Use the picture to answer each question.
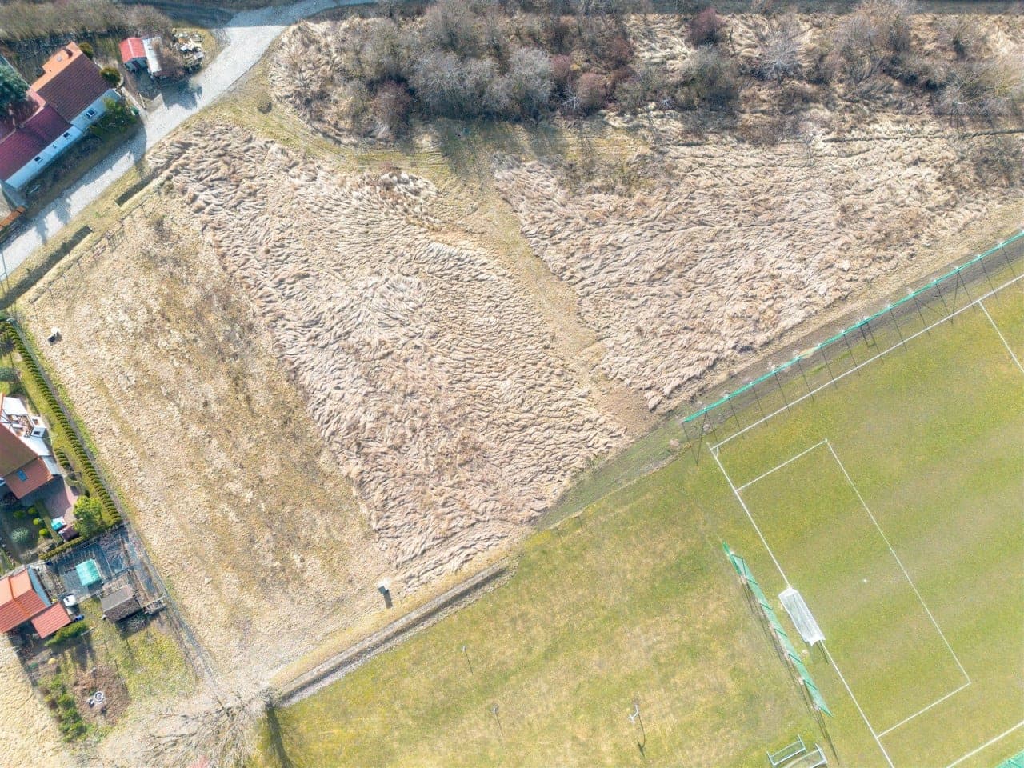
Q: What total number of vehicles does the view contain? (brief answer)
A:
0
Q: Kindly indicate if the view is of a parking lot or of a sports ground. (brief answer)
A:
sports ground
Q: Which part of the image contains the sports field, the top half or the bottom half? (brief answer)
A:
bottom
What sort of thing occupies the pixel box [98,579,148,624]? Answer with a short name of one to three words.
shed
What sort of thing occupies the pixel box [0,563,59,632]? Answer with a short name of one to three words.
house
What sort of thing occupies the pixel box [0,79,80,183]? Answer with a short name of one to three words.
house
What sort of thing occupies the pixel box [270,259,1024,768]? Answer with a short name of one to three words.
sports field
